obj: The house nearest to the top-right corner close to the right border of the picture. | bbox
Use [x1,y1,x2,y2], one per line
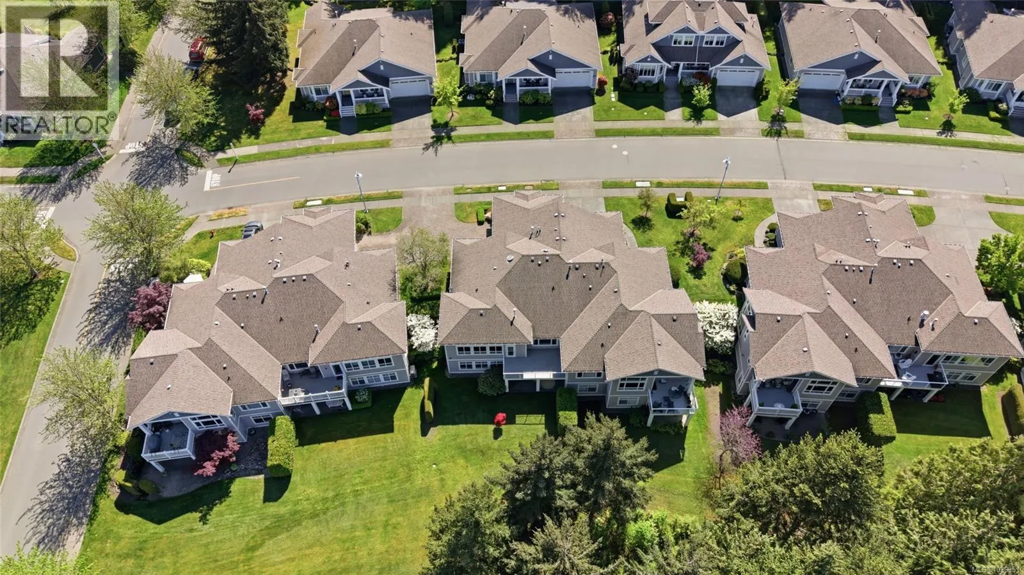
[942,0,1024,115]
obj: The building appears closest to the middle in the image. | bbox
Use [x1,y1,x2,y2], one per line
[435,190,705,425]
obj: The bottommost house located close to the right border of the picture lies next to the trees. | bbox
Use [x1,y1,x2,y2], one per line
[738,192,1024,431]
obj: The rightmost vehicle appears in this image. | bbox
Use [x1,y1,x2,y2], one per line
[239,213,265,240]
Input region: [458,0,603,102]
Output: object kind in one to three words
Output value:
house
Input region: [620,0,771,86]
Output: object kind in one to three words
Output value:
house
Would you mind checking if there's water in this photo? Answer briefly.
No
